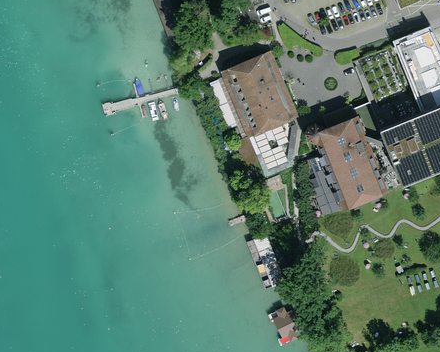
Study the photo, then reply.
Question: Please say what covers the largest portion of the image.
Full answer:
What you mostly see from above here is water.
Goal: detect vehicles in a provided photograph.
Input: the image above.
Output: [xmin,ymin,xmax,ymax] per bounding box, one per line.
[318,24,326,34]
[344,0,351,10]
[308,14,316,25]
[314,11,322,22]
[358,10,365,21]
[370,7,376,16]
[257,6,270,16]
[332,6,338,16]
[343,68,354,74]
[336,18,343,28]
[376,4,382,14]
[364,8,371,20]
[342,16,349,26]
[258,14,272,23]
[352,0,359,8]
[353,12,360,22]
[360,0,366,7]
[348,14,354,24]
[338,2,345,14]
[326,8,332,18]
[320,8,326,18]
